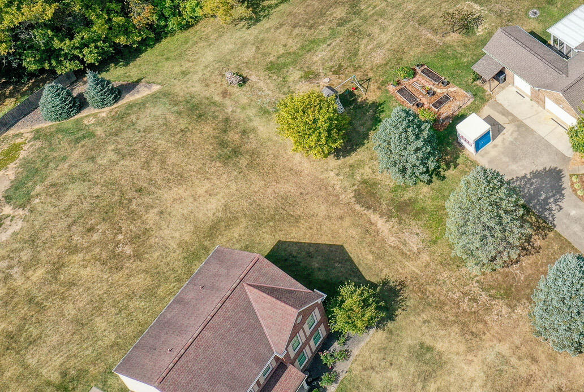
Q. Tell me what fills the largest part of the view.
grass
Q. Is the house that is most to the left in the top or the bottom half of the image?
bottom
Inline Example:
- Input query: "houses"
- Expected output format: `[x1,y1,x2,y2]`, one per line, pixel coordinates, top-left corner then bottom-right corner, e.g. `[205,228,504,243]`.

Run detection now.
[111,244,329,392]
[471,3,584,136]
